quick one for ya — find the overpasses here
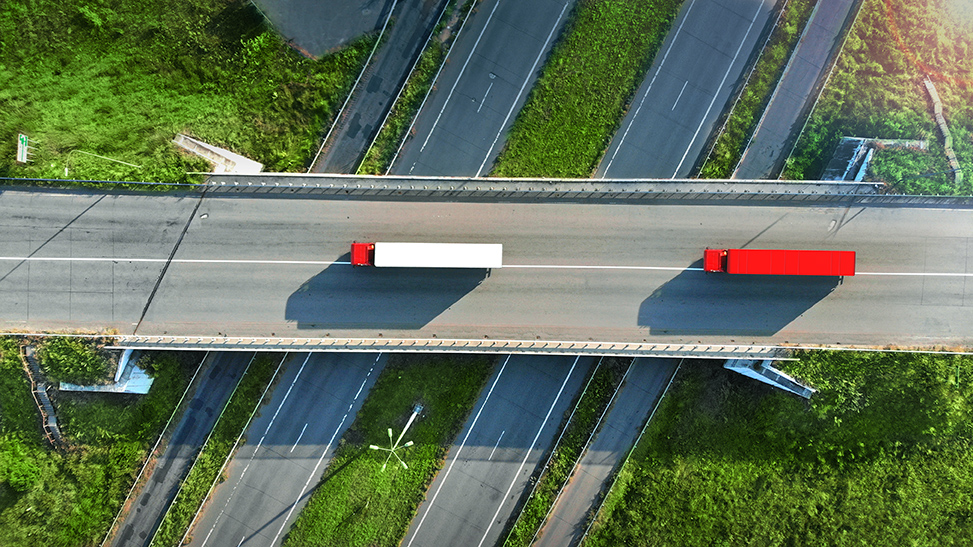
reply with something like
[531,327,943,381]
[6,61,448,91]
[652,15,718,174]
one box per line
[103,174,882,358]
